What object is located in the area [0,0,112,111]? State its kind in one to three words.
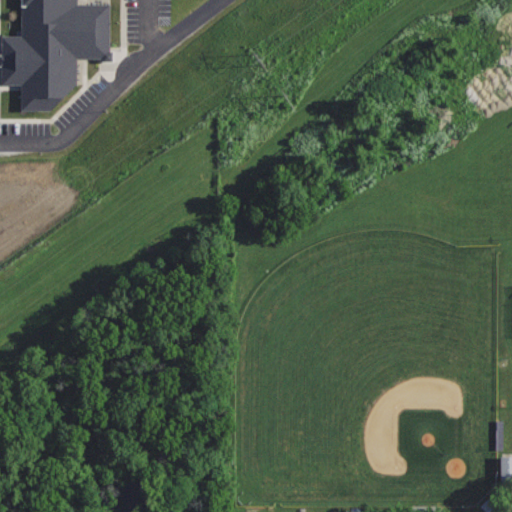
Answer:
building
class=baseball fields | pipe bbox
[238,232,497,505]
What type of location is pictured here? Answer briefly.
sports ground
